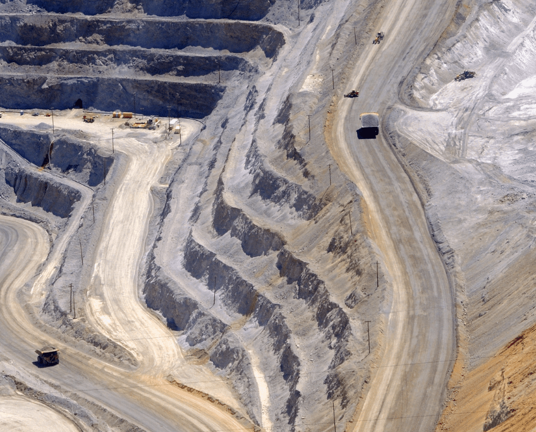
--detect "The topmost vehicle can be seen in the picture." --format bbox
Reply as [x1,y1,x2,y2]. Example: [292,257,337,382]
[369,28,388,46]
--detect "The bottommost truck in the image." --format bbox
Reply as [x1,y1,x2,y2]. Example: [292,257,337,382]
[34,344,62,369]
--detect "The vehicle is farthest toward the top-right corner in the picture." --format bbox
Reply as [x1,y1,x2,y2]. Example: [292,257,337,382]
[449,67,478,84]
